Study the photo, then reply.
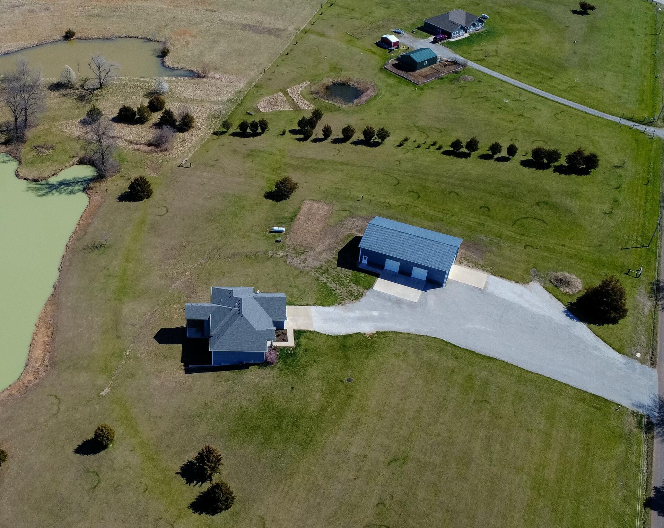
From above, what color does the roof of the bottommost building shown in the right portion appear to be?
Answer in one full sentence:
The roof over the bottommost building shown in the right portion appears blue.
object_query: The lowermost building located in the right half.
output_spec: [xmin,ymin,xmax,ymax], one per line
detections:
[358,215,465,287]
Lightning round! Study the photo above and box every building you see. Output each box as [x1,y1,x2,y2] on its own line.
[381,32,400,47]
[185,283,288,365]
[399,46,437,70]
[422,9,487,39]
[358,215,465,287]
